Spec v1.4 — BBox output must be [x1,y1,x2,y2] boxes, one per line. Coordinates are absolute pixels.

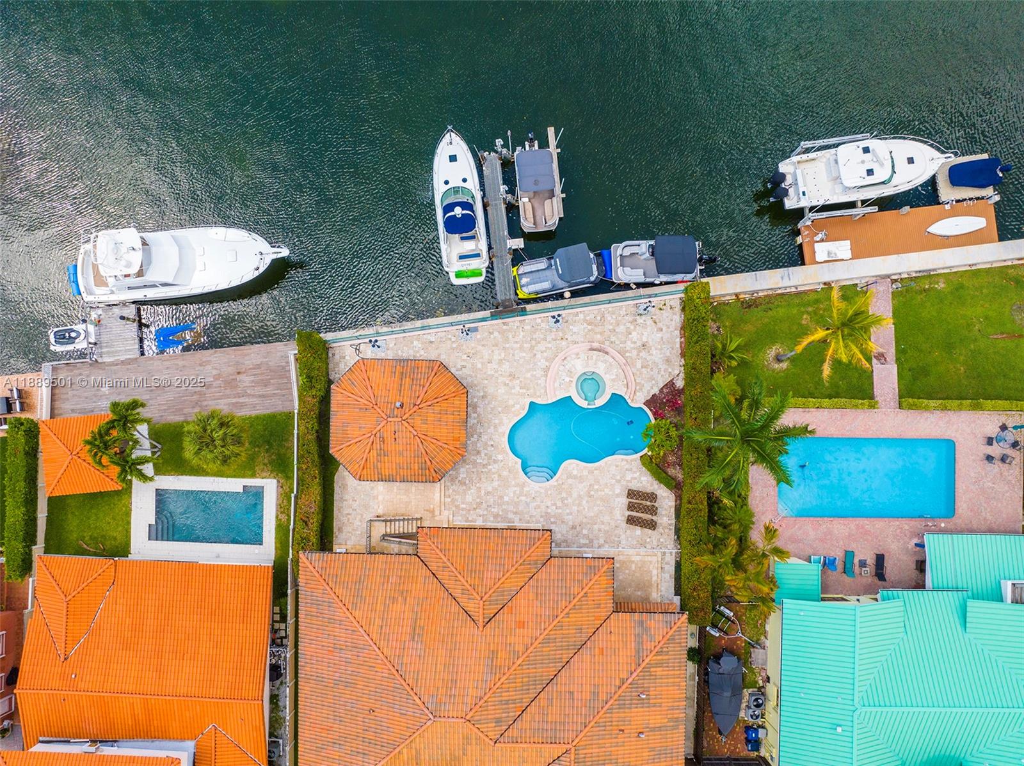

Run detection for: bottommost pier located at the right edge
[798,195,1000,265]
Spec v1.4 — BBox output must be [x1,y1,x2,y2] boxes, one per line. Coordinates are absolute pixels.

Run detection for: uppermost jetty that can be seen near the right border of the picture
[935,152,993,203]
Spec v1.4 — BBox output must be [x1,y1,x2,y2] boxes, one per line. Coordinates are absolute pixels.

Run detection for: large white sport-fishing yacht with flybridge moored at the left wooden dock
[74,225,289,303]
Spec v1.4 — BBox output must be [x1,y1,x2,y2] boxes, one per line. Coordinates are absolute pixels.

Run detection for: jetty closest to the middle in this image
[479,153,518,309]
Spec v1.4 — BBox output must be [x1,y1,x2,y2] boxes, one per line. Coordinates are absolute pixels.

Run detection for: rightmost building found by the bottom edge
[767,531,1024,766]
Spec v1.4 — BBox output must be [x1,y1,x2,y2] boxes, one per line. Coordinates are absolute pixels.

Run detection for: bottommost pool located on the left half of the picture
[142,480,270,551]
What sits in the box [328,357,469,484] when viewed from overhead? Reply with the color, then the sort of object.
orange gazebo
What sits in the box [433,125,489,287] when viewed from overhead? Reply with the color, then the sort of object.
white boat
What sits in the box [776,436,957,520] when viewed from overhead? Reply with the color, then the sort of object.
blue swimming pool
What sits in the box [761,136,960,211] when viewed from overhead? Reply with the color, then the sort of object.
white boat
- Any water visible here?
Yes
